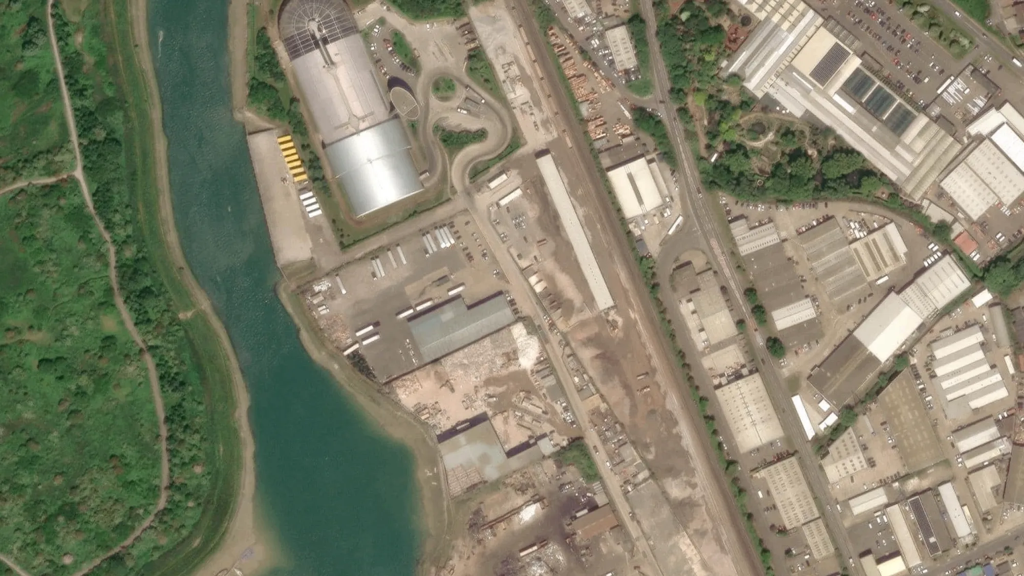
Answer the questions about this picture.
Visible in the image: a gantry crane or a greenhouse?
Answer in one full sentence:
I can see a greenhouse in this picture.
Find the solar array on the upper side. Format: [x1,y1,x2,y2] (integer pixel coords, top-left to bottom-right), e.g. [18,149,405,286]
[807,41,848,83]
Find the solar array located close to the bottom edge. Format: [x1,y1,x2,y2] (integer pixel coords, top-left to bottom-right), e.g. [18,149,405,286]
[910,500,940,554]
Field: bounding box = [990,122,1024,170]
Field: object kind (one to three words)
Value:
shed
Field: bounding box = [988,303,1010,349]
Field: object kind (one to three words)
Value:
shed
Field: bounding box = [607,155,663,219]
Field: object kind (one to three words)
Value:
building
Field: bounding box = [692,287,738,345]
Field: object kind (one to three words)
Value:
building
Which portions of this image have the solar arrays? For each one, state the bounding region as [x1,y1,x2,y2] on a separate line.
[807,41,848,83]
[910,500,940,554]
